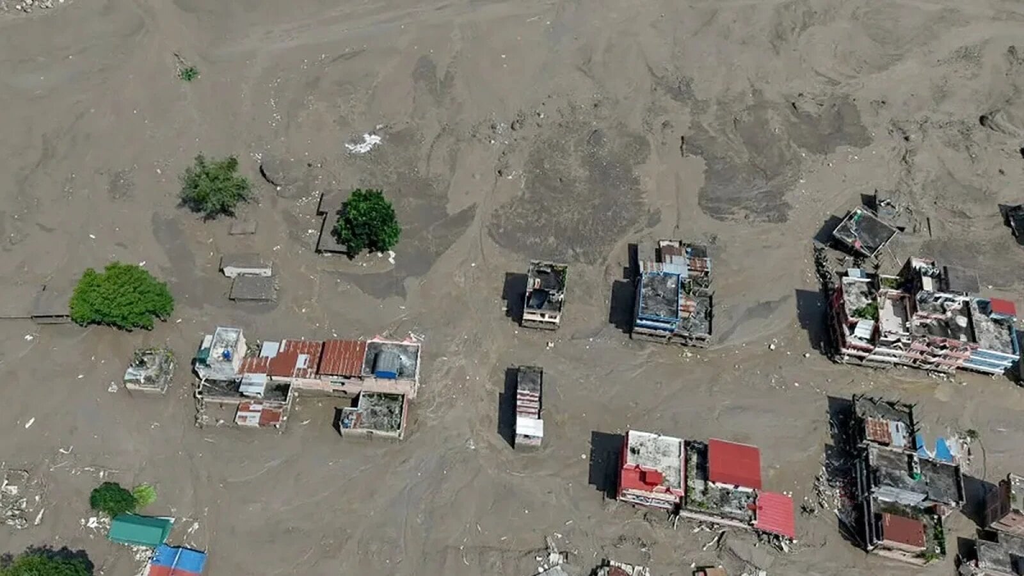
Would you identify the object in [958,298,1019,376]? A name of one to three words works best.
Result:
house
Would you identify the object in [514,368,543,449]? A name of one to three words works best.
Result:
house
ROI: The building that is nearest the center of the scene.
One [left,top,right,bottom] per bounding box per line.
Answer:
[521,262,565,328]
